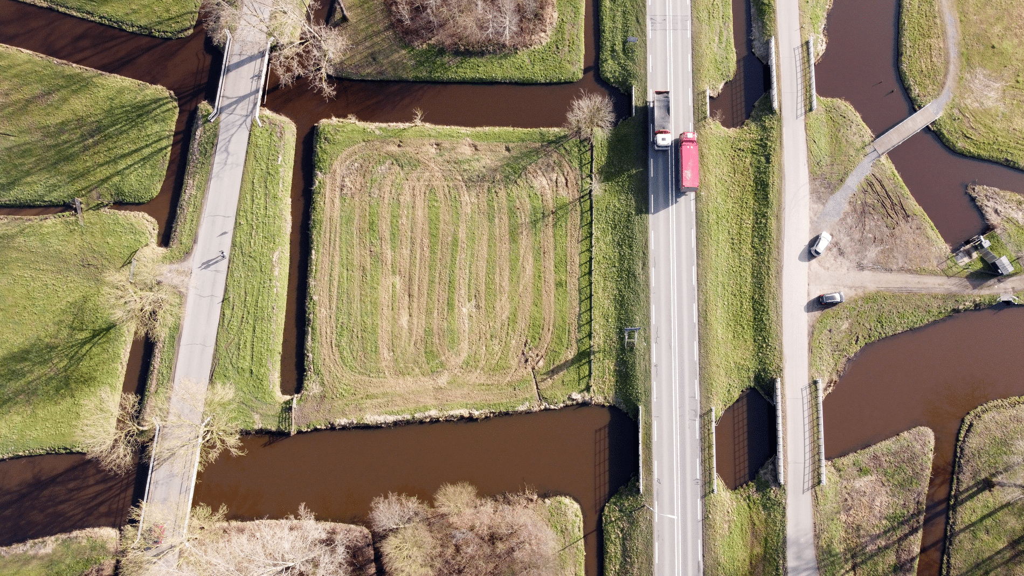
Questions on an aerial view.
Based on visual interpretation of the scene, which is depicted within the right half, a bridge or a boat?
bridge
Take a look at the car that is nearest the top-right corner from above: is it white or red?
white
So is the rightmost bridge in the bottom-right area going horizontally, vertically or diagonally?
vertically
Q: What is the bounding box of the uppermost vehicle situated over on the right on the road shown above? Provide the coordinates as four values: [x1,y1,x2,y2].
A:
[653,90,672,151]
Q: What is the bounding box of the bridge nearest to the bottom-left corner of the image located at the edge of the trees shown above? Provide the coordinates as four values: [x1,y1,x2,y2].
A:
[131,415,213,547]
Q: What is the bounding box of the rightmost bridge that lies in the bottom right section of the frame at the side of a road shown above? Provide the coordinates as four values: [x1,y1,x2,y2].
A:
[766,371,827,492]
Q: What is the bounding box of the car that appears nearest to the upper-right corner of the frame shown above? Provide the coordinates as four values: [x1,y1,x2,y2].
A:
[810,231,832,256]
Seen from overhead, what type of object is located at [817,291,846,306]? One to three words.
car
